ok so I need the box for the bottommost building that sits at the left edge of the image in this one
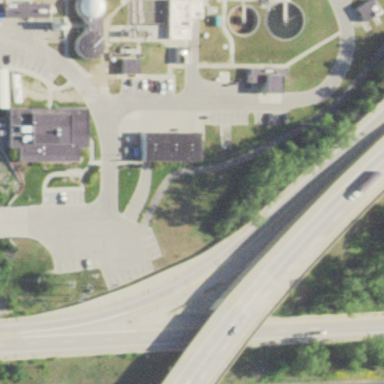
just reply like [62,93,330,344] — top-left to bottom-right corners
[8,108,90,162]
